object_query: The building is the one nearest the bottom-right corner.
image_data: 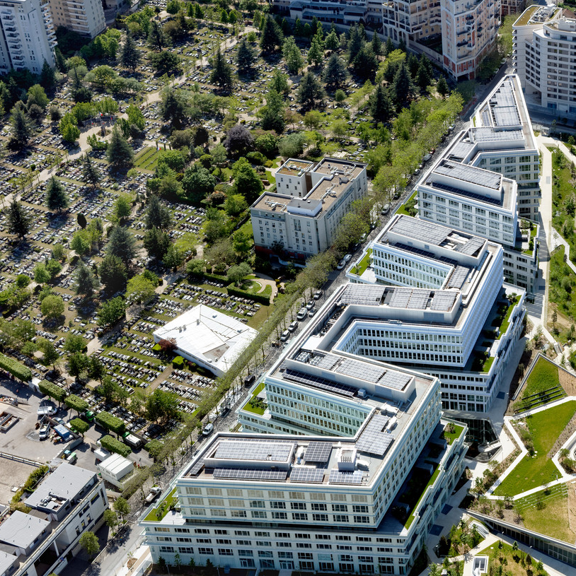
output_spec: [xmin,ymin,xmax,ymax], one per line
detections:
[460,479,576,567]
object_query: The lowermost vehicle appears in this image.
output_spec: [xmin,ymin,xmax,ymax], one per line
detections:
[144,484,161,503]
